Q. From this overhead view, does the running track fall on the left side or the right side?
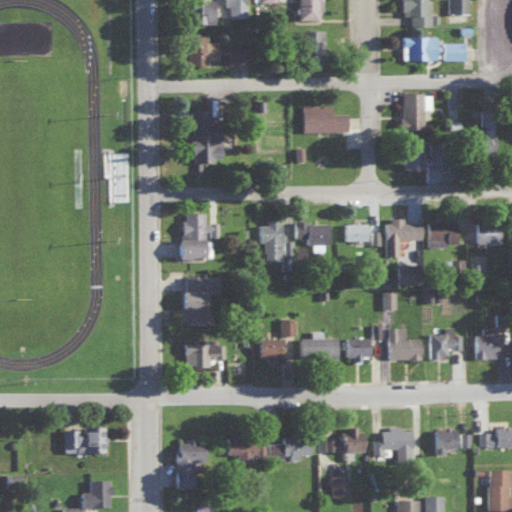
left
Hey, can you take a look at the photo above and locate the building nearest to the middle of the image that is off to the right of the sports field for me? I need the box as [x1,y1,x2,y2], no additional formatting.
[258,222,288,262]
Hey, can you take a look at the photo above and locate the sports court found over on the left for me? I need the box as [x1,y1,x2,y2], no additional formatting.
[0,22,52,56]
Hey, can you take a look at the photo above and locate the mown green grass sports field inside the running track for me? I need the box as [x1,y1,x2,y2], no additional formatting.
[0,4,90,358]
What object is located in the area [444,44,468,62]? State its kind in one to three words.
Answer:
building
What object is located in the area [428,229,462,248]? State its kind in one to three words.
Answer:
house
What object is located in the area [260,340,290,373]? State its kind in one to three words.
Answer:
house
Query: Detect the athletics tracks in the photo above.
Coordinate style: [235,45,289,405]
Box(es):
[0,0,104,370]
